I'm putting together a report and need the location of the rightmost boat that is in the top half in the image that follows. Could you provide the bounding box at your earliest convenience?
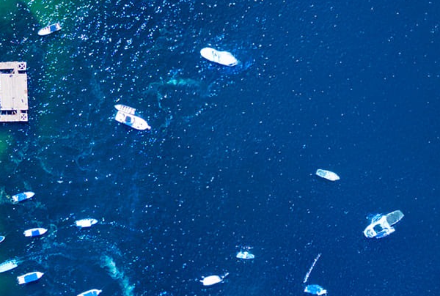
[200,48,241,69]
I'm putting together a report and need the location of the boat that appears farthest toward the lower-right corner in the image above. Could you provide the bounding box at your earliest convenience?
[364,210,408,240]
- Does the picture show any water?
Yes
